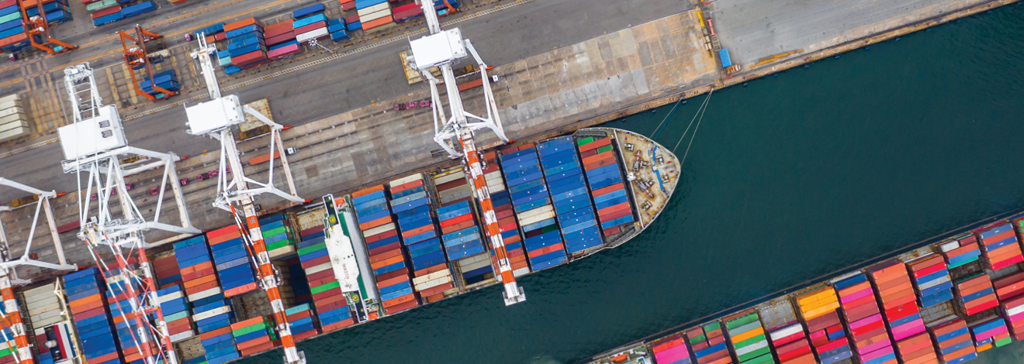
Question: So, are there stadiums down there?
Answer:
No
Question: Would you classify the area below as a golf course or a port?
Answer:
port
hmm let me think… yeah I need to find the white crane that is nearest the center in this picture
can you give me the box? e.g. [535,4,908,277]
[403,0,527,306]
